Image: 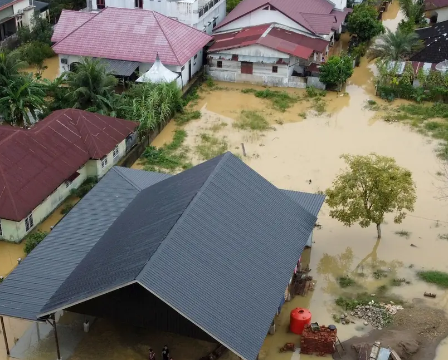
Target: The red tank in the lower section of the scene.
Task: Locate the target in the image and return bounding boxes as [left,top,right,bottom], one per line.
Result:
[288,307,312,337]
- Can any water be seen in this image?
Yes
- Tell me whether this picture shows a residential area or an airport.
residential area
